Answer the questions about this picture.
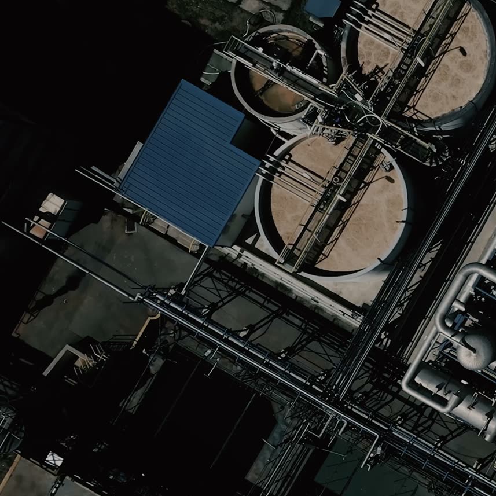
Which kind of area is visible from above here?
industrial area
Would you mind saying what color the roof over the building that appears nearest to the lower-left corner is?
black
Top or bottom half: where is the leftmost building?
top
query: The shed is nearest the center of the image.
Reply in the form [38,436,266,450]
[118,78,274,247]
